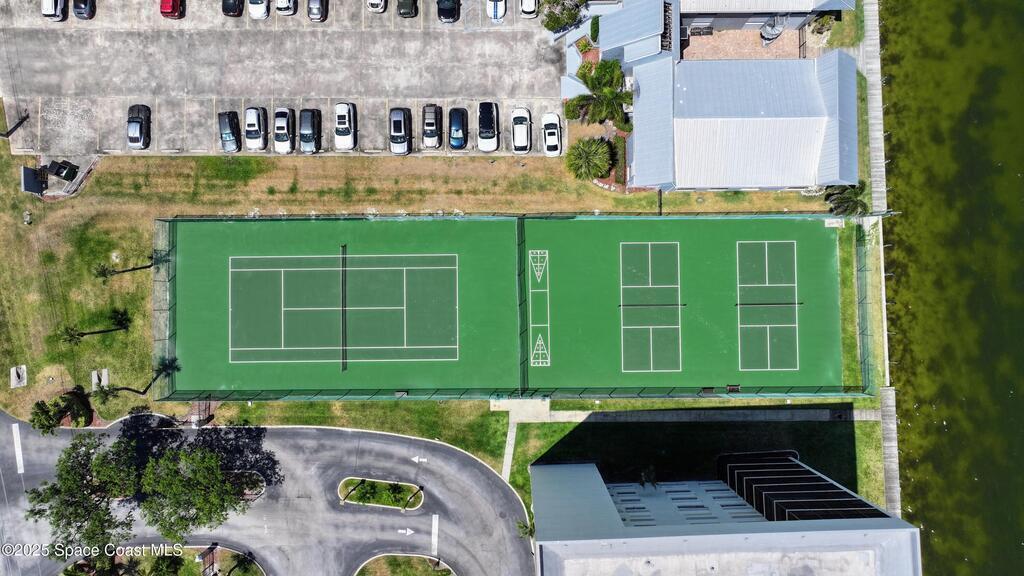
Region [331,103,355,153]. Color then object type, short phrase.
white car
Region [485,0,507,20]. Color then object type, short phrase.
white car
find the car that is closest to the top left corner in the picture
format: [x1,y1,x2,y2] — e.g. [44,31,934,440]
[39,0,68,21]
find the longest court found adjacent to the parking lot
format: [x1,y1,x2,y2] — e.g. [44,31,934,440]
[168,218,521,397]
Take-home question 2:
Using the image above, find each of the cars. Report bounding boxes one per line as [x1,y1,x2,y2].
[221,0,243,16]
[307,0,327,20]
[446,108,468,151]
[436,0,459,24]
[275,0,296,16]
[245,0,268,18]
[475,103,499,154]
[540,113,561,159]
[520,0,538,18]
[295,110,319,157]
[70,0,96,19]
[159,0,184,17]
[510,109,532,156]
[485,0,507,20]
[397,0,416,17]
[331,103,355,153]
[214,109,239,154]
[39,0,68,21]
[241,107,266,153]
[366,0,385,14]
[387,108,410,158]
[270,109,293,156]
[124,106,149,151]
